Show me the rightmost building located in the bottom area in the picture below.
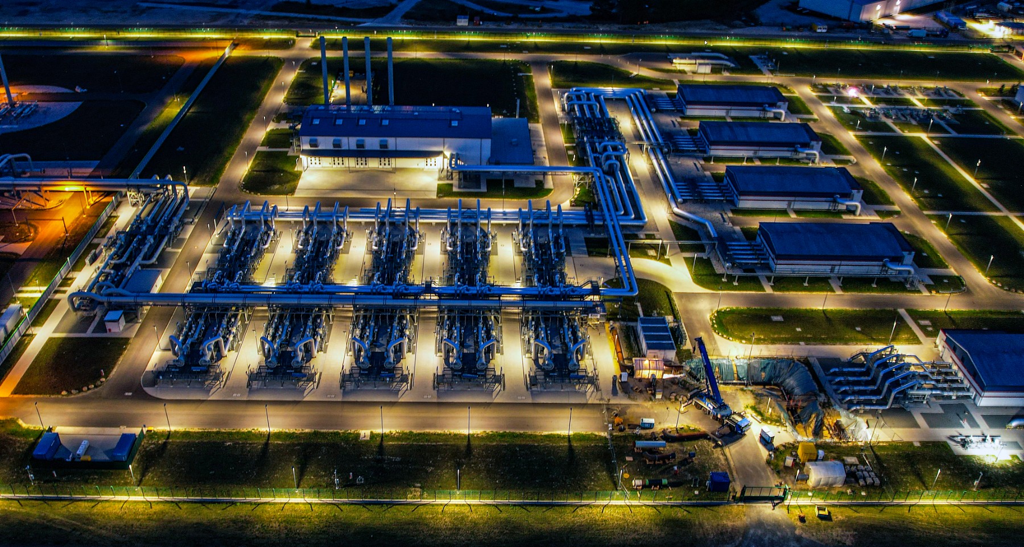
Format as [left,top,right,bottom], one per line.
[941,332,1024,406]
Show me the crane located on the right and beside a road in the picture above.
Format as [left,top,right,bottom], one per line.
[685,336,757,431]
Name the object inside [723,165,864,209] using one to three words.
building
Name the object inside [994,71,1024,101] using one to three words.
building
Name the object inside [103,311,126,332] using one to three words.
shed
